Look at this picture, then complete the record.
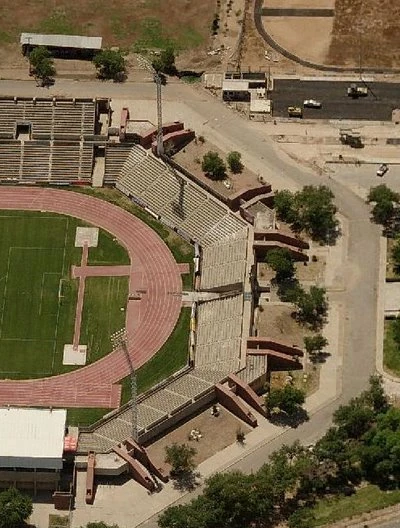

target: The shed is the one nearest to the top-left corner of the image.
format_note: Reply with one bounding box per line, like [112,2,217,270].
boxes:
[20,33,101,59]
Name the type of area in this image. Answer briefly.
sports ground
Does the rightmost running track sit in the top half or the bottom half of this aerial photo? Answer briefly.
top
